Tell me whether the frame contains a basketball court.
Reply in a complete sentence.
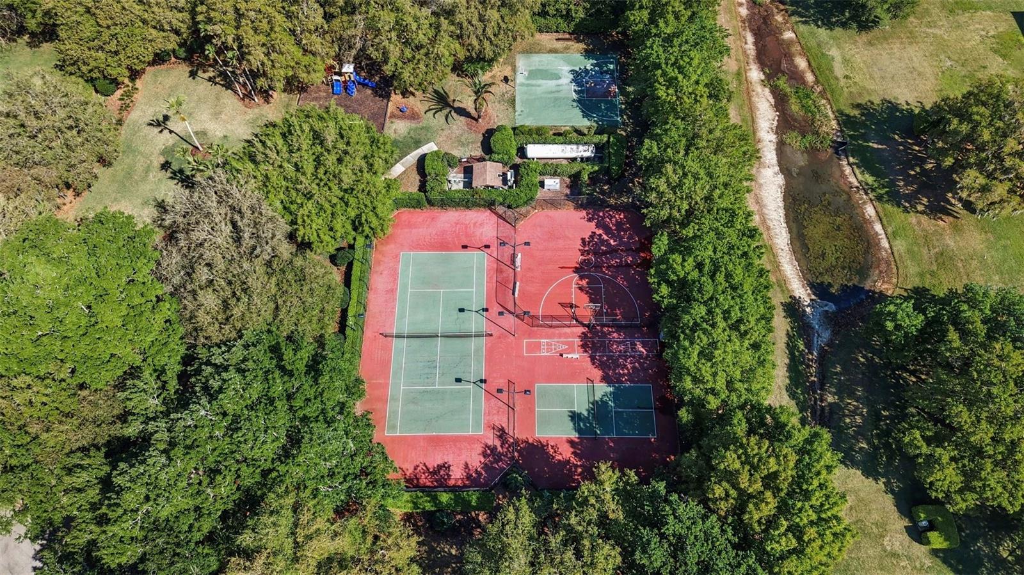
Yes, I can see a basketball court in this picture.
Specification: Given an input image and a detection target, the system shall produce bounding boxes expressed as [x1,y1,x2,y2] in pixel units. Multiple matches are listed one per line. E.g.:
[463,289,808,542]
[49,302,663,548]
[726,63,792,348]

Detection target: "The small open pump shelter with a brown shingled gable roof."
[474,162,501,188]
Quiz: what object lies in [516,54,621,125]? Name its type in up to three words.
basketball court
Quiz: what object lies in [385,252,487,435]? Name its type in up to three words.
tennis court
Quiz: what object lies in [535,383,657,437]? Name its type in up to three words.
sports court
